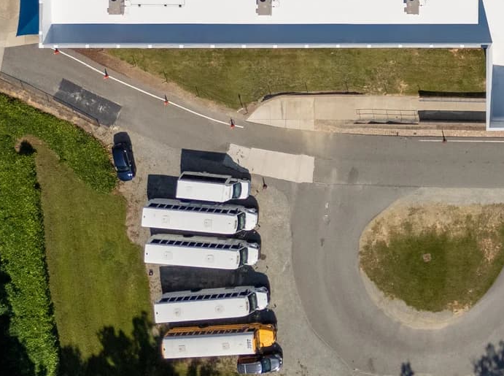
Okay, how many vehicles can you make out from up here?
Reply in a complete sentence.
The photo contains 7 vehicles.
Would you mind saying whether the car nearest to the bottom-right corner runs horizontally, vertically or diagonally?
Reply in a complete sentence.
The car nearest to the bottom-right corner is laid out horizontally.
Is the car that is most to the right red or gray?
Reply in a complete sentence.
The color of the car that is most to the right is gray.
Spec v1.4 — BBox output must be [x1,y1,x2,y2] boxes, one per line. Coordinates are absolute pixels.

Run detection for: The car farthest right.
[237,352,283,374]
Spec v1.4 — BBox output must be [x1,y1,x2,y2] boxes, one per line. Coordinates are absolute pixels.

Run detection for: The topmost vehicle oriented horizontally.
[177,174,255,206]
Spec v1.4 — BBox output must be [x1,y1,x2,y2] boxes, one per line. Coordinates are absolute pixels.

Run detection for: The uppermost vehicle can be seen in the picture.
[113,137,137,182]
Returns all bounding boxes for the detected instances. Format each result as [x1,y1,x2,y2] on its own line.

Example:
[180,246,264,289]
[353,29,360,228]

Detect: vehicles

[143,201,262,236]
[237,352,283,374]
[162,322,281,357]
[154,287,274,321]
[145,235,263,271]
[113,137,137,182]
[177,174,255,206]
